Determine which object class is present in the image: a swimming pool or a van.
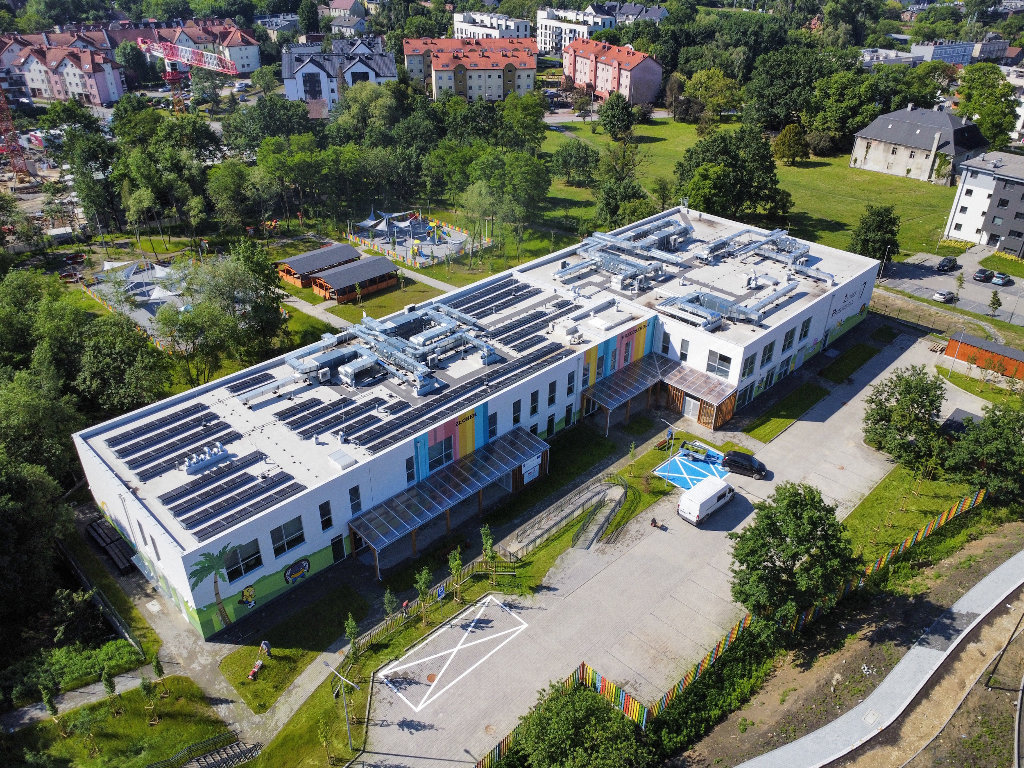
van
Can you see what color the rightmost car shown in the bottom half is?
black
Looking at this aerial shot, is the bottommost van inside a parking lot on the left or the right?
right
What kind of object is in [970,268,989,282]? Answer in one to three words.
car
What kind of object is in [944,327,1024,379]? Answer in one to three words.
shed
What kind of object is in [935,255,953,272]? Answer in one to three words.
car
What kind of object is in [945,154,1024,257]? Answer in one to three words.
building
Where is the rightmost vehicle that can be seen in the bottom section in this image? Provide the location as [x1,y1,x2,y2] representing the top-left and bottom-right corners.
[724,449,770,478]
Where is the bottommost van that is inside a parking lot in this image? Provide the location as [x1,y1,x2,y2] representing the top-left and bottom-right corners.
[678,477,733,524]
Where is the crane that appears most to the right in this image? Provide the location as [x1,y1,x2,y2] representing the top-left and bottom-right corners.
[137,39,241,116]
